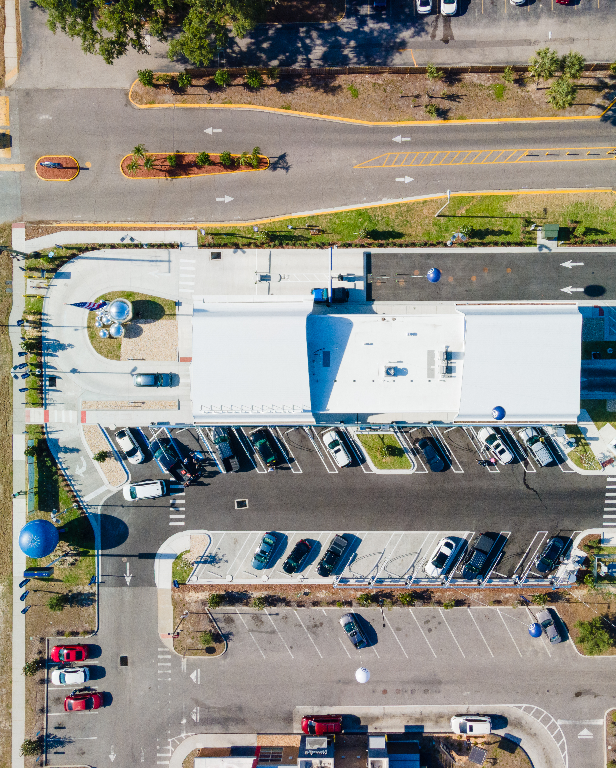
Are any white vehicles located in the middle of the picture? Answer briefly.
Yes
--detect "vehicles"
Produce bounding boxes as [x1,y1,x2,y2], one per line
[521,426,553,469]
[426,535,456,576]
[416,434,444,474]
[51,643,91,664]
[134,371,175,390]
[450,714,492,737]
[250,530,278,572]
[535,535,564,575]
[535,606,563,648]
[122,480,167,503]
[149,436,193,486]
[211,426,241,476]
[315,532,349,578]
[324,430,352,471]
[64,691,104,712]
[479,426,513,468]
[460,530,497,581]
[414,0,431,15]
[52,666,91,686]
[114,425,146,465]
[283,537,310,576]
[440,0,458,17]
[302,715,342,738]
[338,610,369,652]
[251,428,280,469]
